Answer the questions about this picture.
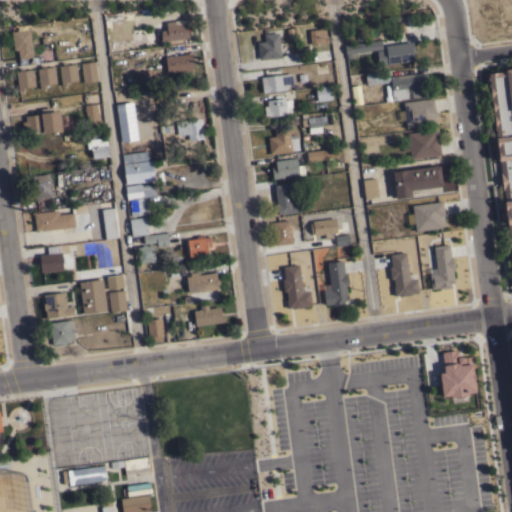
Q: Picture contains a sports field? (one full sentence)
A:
Yes, a sports field is visible in the scene.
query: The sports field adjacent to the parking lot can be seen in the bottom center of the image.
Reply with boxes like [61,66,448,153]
[156,372,256,461]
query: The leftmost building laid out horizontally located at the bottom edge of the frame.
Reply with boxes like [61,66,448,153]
[68,467,107,488]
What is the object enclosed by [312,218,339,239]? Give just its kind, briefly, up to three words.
house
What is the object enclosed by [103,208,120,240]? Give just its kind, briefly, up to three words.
building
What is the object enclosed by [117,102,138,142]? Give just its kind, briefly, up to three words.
shed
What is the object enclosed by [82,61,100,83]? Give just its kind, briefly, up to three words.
house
